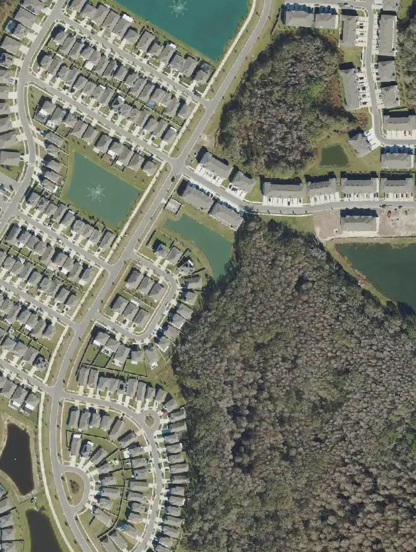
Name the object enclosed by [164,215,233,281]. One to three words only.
pond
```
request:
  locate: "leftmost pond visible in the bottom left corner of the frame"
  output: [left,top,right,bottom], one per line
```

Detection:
[0,423,34,496]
